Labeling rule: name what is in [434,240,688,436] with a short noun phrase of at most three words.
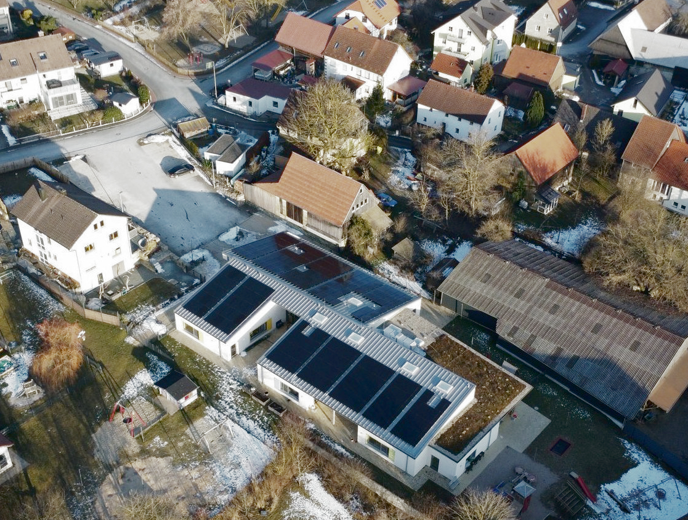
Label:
barn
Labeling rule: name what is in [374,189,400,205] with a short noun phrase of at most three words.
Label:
car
